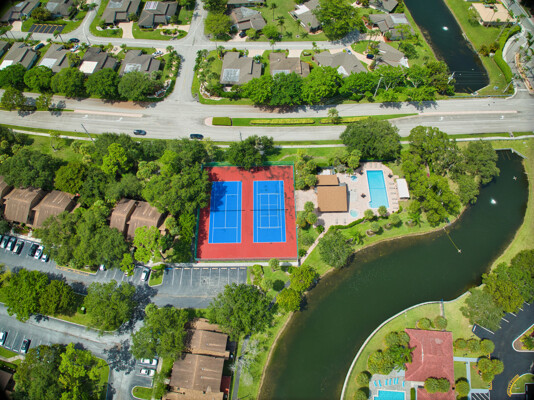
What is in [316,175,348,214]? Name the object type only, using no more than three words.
building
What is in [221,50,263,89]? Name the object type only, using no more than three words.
house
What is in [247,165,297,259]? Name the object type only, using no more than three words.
tennis court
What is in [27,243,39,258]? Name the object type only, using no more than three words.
vehicle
